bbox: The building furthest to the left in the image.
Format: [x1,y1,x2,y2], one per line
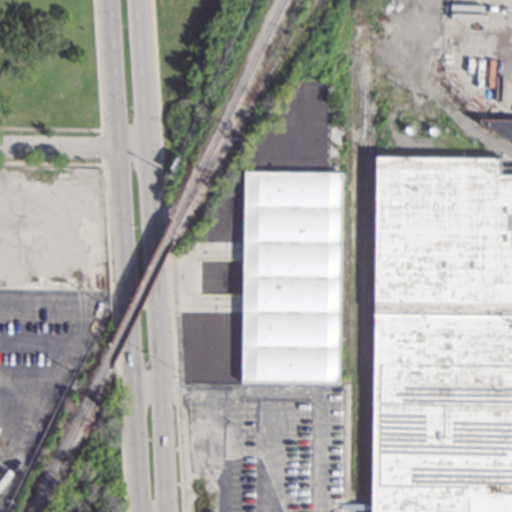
[245,170,344,384]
